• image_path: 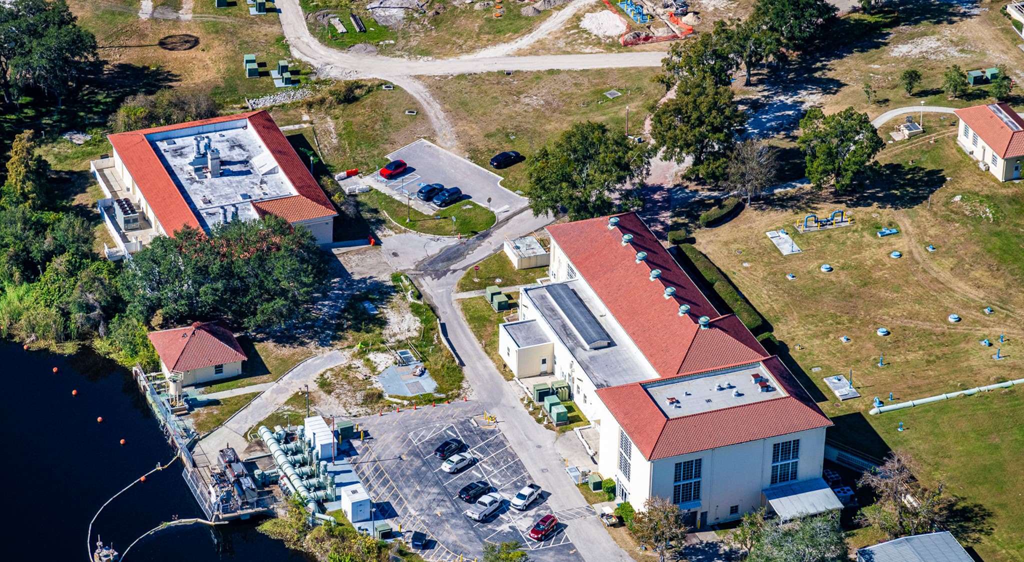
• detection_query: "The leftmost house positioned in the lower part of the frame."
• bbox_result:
[147,321,247,384]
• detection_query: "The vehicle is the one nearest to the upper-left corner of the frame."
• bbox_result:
[379,158,409,178]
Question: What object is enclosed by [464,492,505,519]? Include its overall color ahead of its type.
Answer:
white truck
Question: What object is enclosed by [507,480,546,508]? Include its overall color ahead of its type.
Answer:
white truck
